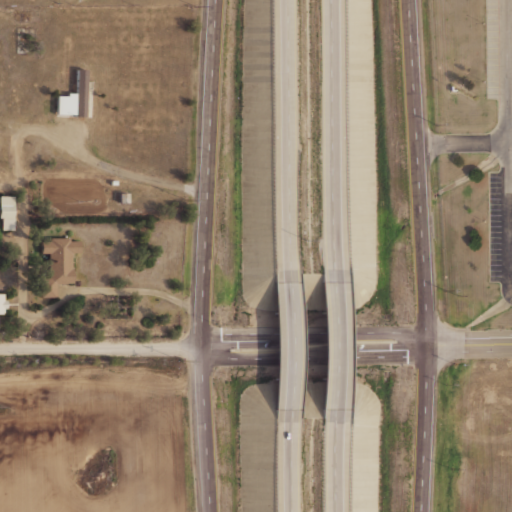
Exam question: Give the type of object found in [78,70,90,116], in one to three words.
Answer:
barn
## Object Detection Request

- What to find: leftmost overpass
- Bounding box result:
[277,262,308,428]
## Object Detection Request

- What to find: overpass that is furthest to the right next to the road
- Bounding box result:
[324,262,356,428]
